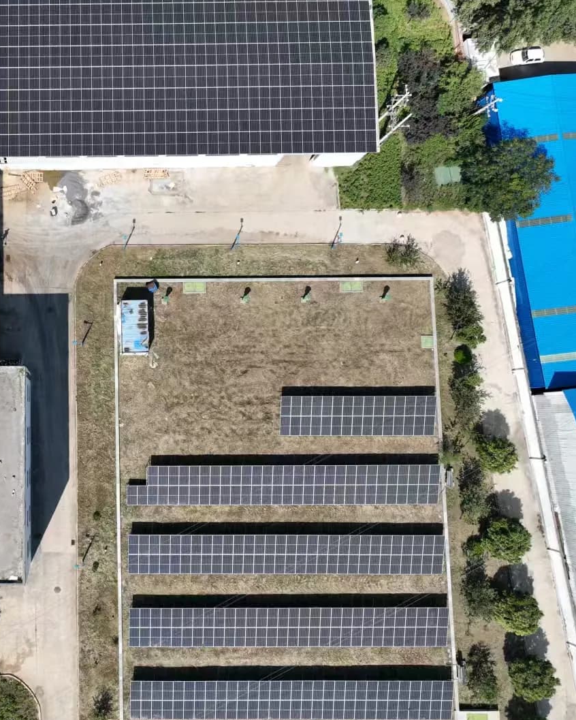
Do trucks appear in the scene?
No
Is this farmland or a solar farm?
solar farm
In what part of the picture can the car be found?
top right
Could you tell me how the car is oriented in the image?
horizontally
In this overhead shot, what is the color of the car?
white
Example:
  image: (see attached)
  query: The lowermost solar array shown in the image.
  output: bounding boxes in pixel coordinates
[131,680,453,720]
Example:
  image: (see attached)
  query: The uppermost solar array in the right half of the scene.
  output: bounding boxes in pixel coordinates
[281,396,436,436]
